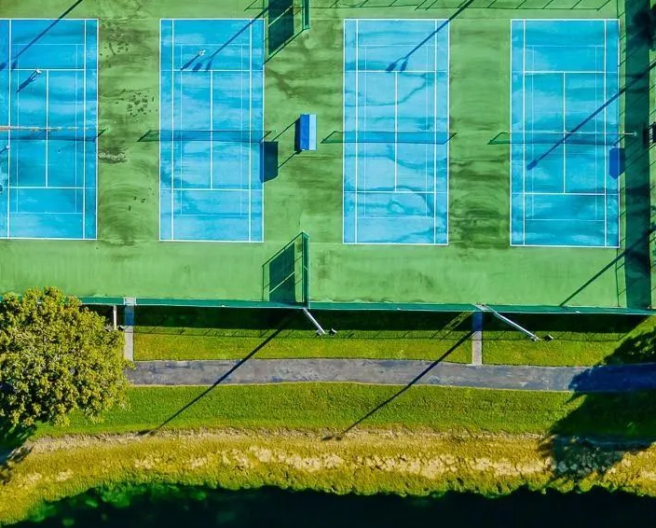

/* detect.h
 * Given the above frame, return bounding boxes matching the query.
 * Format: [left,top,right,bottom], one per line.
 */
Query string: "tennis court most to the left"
[0,19,98,241]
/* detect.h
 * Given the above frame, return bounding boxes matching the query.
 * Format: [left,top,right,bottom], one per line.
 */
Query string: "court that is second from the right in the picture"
[344,19,450,245]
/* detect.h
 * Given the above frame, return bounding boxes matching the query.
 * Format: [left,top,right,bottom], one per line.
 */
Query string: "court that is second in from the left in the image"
[159,19,265,243]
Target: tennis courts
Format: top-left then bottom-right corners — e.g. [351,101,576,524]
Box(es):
[0,19,98,241]
[511,19,620,248]
[159,19,265,243]
[344,19,450,245]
